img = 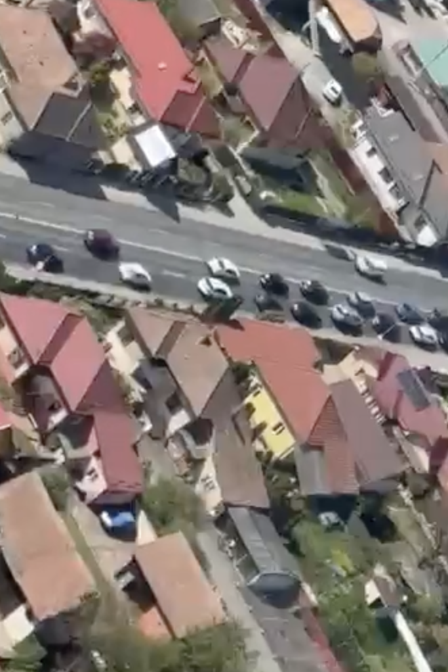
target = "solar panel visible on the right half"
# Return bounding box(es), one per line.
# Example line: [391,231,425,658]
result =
[398,371,431,411]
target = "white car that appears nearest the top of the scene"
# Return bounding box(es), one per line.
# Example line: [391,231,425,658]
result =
[319,75,344,106]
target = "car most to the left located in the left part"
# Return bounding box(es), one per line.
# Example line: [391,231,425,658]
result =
[23,247,64,272]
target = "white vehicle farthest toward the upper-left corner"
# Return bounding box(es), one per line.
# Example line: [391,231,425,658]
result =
[115,264,152,289]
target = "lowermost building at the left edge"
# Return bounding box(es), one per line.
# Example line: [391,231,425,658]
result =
[0,471,109,635]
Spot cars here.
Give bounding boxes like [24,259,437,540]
[392,303,426,324]
[424,311,448,332]
[250,291,284,314]
[257,273,290,295]
[204,258,240,282]
[195,277,232,302]
[328,303,364,328]
[407,327,437,348]
[297,280,332,306]
[23,247,64,272]
[115,264,152,289]
[287,302,324,328]
[367,318,399,339]
[319,75,344,106]
[353,255,388,278]
[81,230,122,257]
[435,332,448,352]
[344,294,375,315]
